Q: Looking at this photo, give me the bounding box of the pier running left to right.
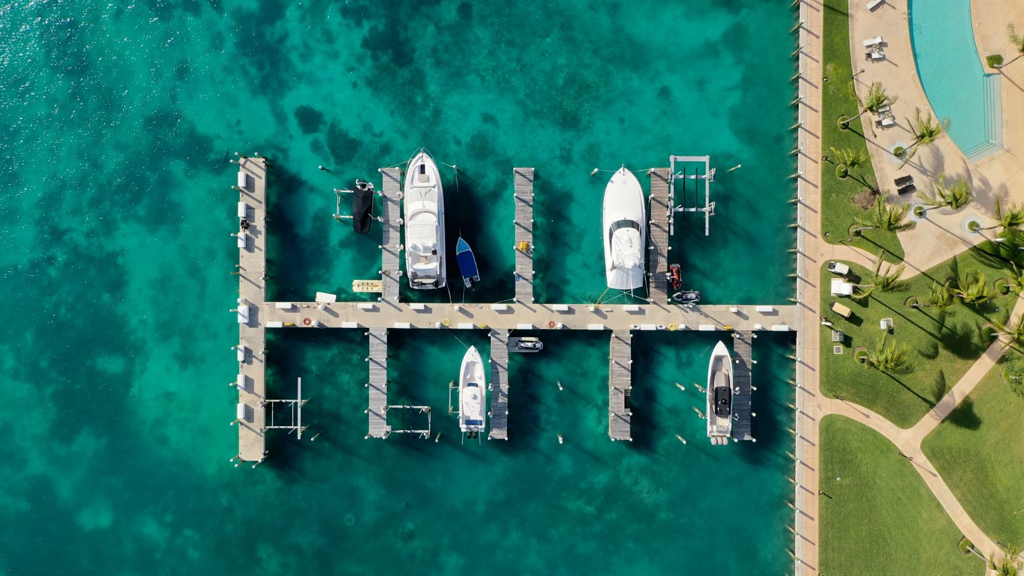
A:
[265,302,796,331]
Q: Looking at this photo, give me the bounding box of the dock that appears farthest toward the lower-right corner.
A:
[732,330,751,440]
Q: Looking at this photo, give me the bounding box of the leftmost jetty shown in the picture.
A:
[239,158,268,461]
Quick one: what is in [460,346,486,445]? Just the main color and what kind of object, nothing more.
white boat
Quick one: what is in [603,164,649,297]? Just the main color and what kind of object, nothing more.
white boat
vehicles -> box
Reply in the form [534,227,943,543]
[822,299,851,318]
[820,259,851,276]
